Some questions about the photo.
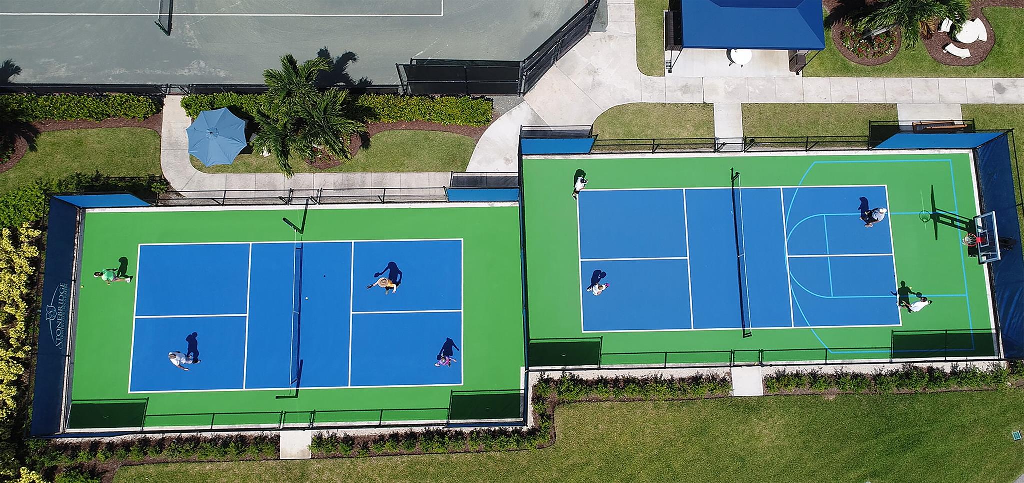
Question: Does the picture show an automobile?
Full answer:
No, there isn't any automobile down there.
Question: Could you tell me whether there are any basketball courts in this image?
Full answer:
Yes, a basketball court is visible in the scene.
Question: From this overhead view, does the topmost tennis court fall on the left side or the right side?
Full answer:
You can find the topmost tennis court on the left side of the picture.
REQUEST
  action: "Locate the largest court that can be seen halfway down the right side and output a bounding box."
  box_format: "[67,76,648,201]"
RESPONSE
[523,148,998,370]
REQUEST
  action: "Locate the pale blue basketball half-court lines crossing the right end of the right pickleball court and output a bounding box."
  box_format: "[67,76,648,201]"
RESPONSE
[785,159,974,353]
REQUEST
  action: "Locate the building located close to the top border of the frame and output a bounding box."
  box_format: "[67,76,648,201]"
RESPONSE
[666,0,825,76]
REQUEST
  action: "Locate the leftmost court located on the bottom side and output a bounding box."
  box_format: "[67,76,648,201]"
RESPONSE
[62,201,526,432]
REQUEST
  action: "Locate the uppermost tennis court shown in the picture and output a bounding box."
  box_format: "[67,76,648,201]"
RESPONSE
[0,0,608,125]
